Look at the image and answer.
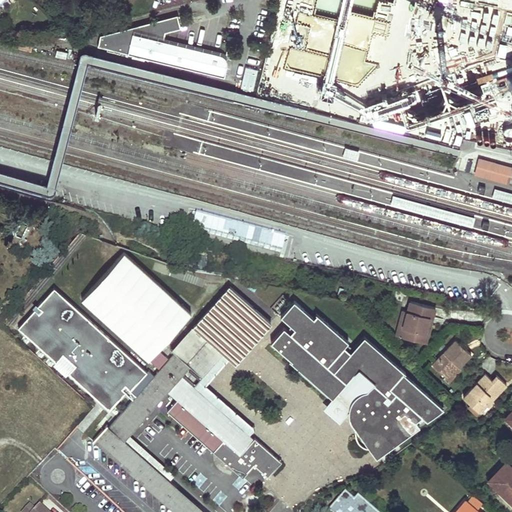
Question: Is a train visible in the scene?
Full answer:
Yes, a train can be made out from above.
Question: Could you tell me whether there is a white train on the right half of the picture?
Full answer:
Yes, on the right half of the picture there is a white train.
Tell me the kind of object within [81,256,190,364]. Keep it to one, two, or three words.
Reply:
building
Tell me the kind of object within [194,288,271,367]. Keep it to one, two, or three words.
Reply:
building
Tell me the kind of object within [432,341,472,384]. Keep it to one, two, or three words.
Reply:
house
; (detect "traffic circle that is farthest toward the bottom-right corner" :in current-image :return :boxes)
[484,307,512,361]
